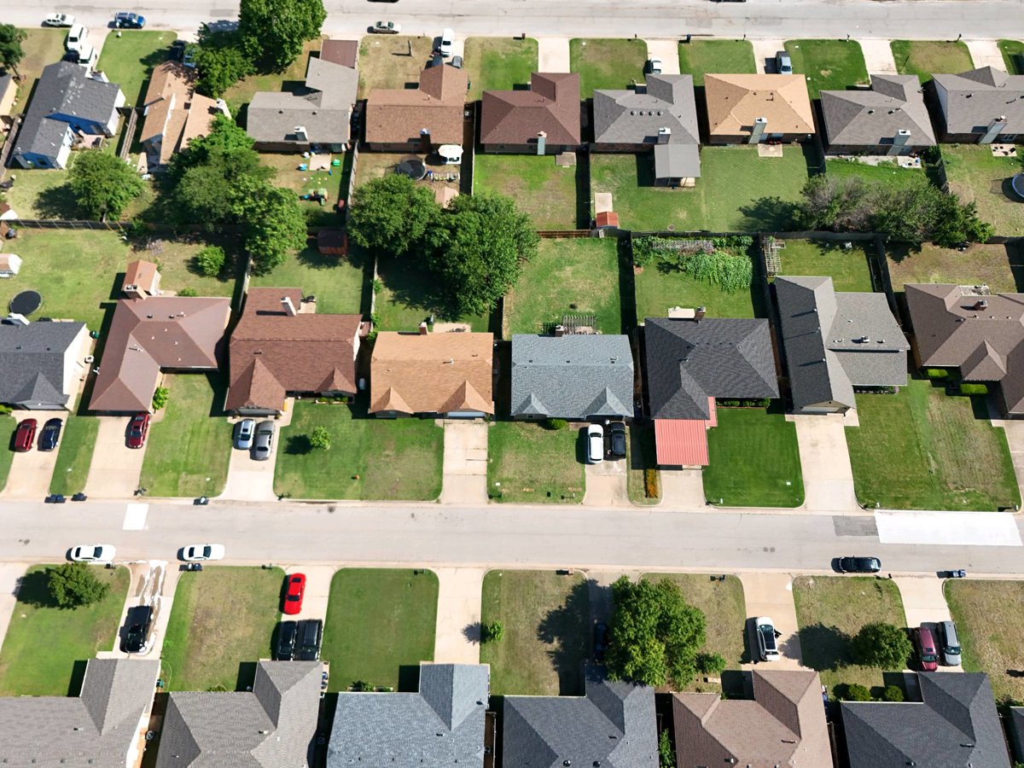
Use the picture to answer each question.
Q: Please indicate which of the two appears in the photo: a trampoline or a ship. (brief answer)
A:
trampoline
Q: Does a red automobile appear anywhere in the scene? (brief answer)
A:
Yes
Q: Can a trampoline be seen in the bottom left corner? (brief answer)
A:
No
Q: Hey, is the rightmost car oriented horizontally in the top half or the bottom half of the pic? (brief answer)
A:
bottom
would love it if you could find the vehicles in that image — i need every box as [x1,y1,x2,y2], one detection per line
[372,22,401,35]
[46,13,76,28]
[71,544,116,564]
[429,55,443,67]
[115,14,148,29]
[182,46,199,67]
[284,573,306,615]
[754,617,783,661]
[82,44,104,73]
[650,58,663,74]
[452,55,464,71]
[170,39,187,61]
[609,422,627,457]
[910,627,939,671]
[440,32,454,56]
[68,23,90,51]
[775,53,791,74]
[38,418,64,452]
[234,417,256,451]
[254,421,276,460]
[274,619,299,661]
[934,621,963,665]
[124,603,153,655]
[181,543,225,563]
[835,555,880,575]
[298,619,322,662]
[65,48,82,65]
[127,415,151,449]
[586,427,604,463]
[11,418,40,453]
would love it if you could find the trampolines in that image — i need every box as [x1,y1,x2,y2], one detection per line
[1010,167,1024,197]
[397,153,426,180]
[10,290,44,315]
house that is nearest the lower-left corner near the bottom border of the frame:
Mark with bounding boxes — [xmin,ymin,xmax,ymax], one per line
[0,657,167,768]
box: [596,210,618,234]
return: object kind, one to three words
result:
shed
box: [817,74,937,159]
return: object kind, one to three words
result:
house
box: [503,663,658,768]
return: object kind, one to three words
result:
house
